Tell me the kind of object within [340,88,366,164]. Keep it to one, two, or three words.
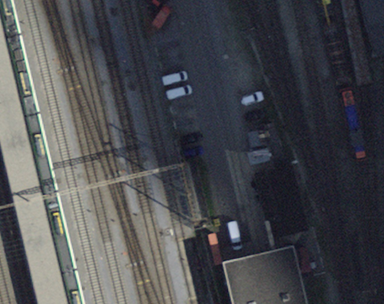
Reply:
rail car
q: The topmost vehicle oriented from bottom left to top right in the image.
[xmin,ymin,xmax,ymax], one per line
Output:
[152,6,170,30]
